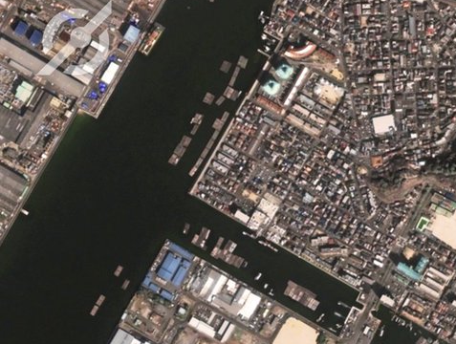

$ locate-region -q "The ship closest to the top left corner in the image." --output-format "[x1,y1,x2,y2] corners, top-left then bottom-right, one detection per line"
[141,26,161,55]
